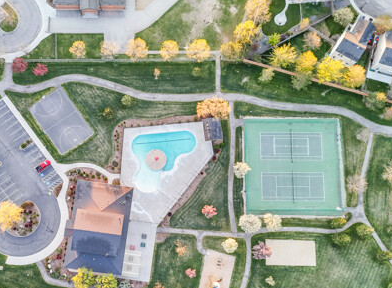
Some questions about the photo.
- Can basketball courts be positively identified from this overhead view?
Yes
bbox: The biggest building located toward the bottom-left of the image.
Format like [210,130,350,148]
[64,180,134,276]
